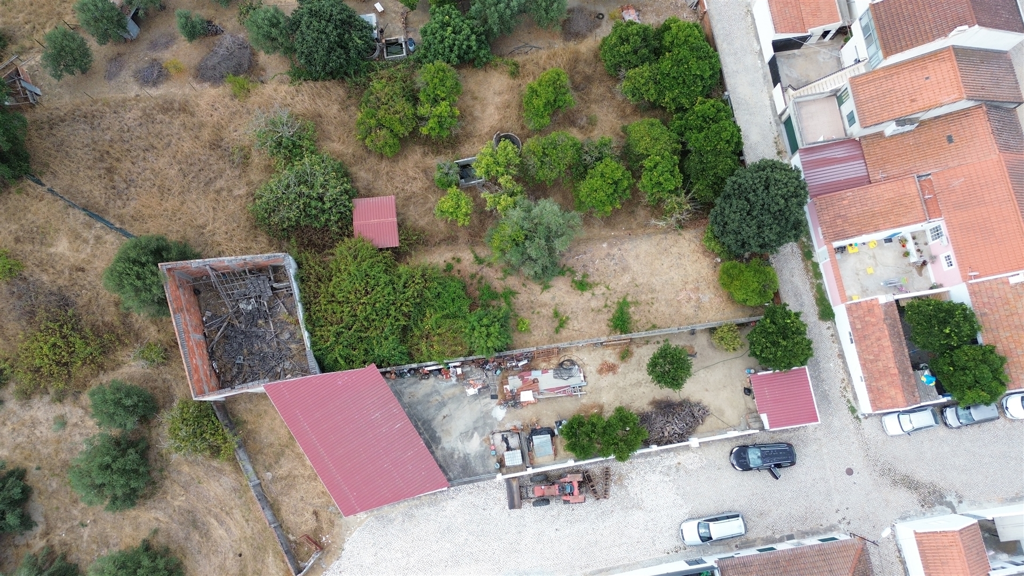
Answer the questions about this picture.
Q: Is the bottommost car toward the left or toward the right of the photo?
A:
right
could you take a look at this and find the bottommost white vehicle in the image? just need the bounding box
[679,511,749,547]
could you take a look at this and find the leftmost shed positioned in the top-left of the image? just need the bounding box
[0,54,42,104]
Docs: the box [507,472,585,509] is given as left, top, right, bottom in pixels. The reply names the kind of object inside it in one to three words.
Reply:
work vehicle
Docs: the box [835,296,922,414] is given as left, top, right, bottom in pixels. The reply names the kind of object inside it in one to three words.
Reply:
house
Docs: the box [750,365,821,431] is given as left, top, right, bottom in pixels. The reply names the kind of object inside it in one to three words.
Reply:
shed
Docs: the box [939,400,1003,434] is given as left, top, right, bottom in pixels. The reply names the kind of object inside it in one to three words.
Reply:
car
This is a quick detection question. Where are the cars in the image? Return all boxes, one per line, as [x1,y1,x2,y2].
[878,406,942,437]
[679,511,749,547]
[939,400,1003,434]
[729,442,798,481]
[998,392,1024,417]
